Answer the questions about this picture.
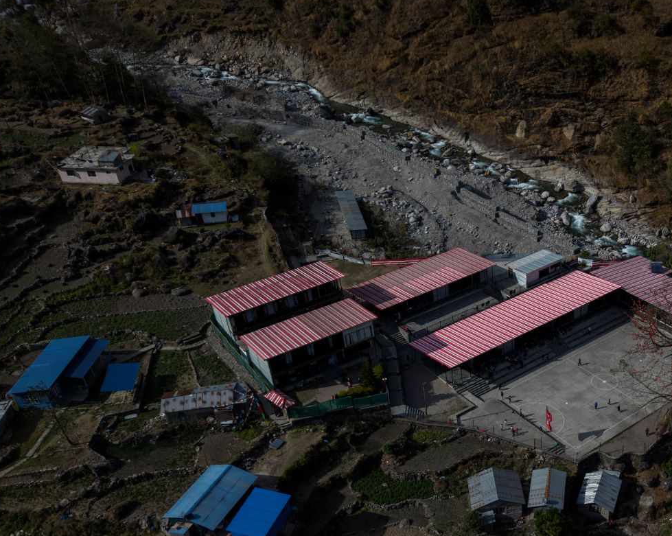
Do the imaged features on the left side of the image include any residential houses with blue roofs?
Yes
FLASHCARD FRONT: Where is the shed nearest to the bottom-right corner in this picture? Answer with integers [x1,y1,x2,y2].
[576,468,624,524]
